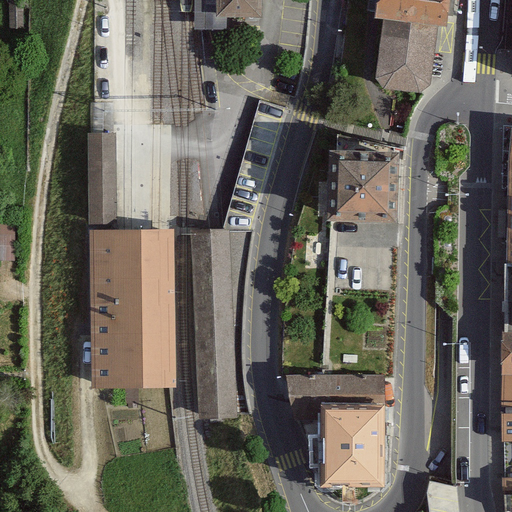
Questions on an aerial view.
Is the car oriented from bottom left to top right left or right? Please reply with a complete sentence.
You can find the car oriented from bottom left to top right on the right side of the picture.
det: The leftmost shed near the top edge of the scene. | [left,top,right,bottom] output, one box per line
[8,3,24,28]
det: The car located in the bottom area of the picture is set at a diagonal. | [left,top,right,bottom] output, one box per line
[426,450,446,471]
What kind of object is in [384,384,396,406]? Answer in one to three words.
vehicle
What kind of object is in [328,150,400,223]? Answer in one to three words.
house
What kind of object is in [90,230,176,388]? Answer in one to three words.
shed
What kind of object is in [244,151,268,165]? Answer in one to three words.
car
